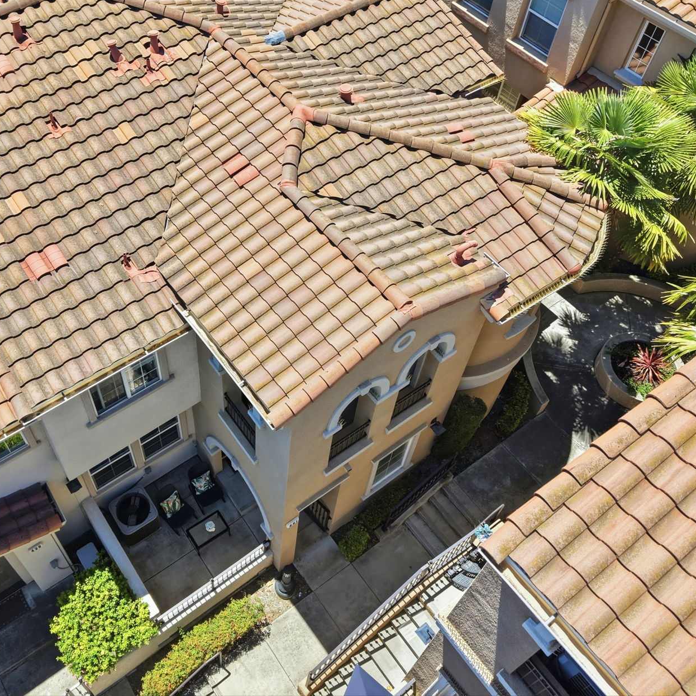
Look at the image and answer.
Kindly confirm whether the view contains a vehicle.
No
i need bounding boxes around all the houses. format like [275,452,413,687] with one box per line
[394,323,696,696]
[0,0,616,618]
